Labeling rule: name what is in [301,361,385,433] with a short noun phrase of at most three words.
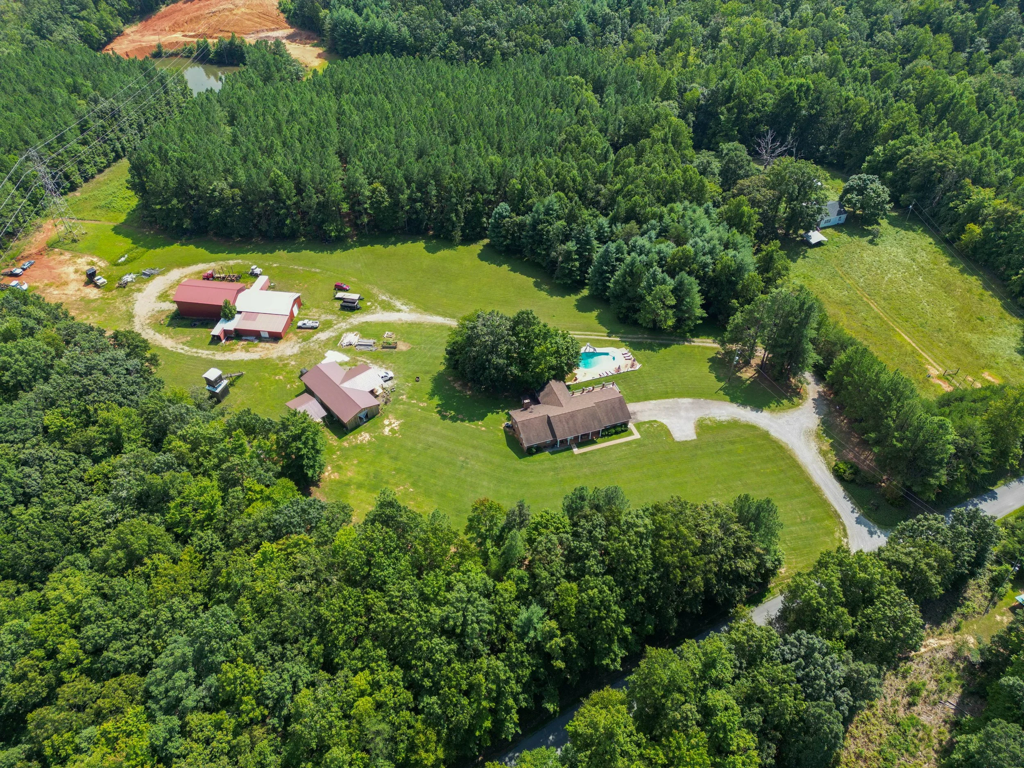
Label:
barn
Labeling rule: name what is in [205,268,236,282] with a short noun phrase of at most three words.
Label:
vehicle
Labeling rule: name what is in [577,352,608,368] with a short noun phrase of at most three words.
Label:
swimming pool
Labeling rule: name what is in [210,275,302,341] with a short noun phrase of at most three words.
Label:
barn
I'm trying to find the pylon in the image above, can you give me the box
[22,151,89,243]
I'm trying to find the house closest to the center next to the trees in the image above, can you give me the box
[509,379,632,455]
